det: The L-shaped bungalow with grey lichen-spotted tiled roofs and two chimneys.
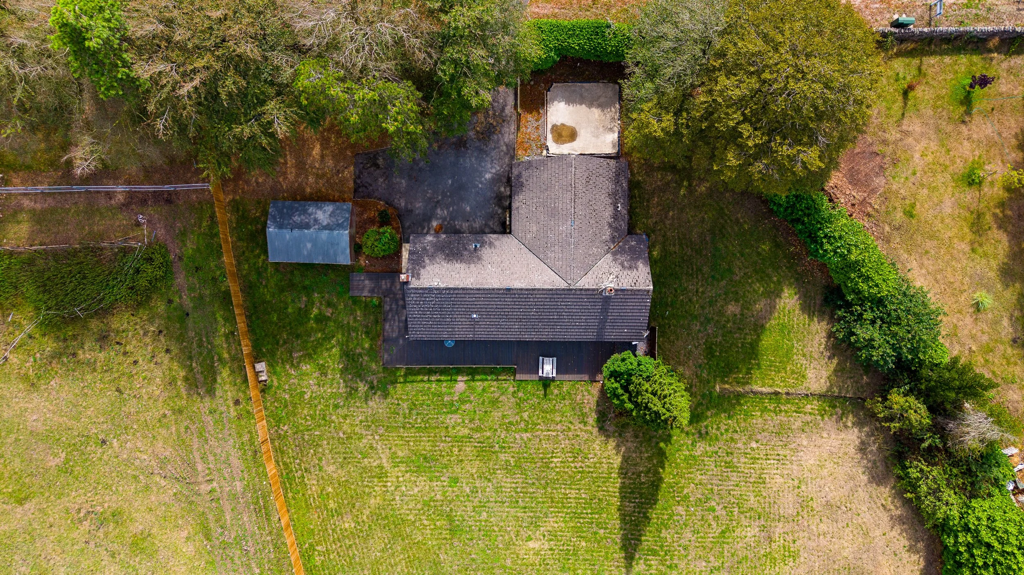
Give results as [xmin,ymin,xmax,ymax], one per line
[399,154,654,342]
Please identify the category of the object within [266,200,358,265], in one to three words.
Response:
shed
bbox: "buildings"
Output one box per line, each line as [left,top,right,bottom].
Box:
[266,200,358,265]
[399,154,654,342]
